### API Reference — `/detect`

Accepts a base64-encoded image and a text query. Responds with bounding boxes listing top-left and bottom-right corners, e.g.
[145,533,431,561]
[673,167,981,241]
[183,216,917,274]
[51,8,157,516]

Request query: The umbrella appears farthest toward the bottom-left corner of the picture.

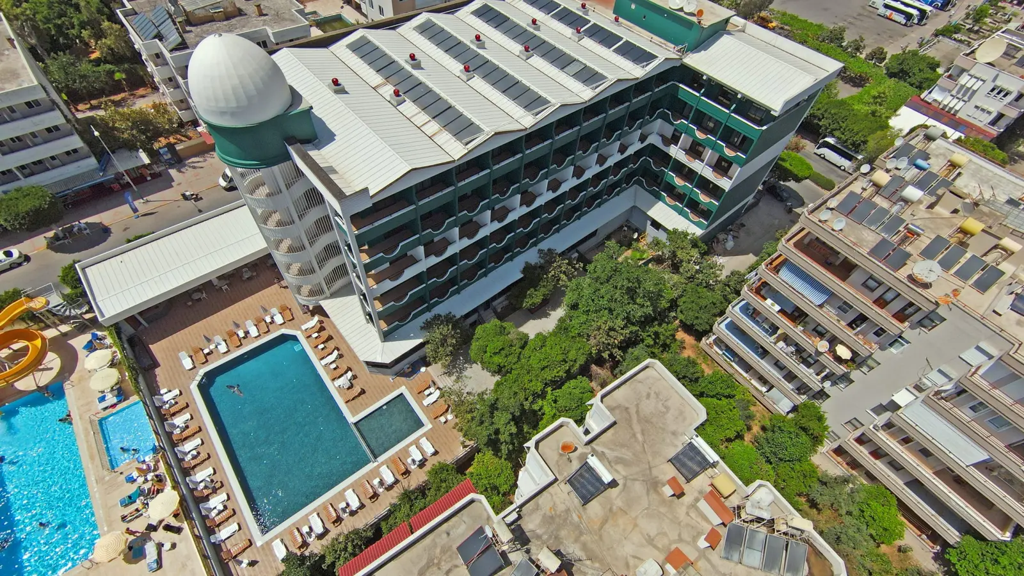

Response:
[89,527,135,571]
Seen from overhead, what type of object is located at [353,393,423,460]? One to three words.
swimming pool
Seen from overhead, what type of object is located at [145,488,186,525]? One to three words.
umbrella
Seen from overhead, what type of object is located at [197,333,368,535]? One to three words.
swimming pool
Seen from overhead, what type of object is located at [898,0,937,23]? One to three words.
bus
